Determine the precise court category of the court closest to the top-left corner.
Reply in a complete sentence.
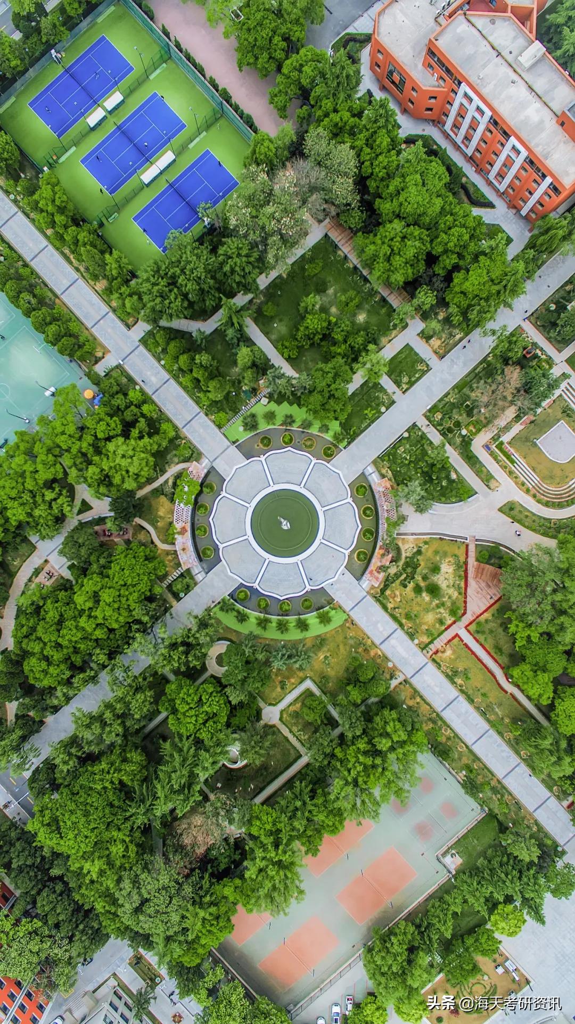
It turns out the court closest to the top-left corner is a tennis court.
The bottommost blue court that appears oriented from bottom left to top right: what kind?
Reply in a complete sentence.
The bottommost blue court that appears oriented from bottom left to top right is a tennis court.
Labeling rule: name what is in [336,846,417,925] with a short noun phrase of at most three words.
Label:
sports court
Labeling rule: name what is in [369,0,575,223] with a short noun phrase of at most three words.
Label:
building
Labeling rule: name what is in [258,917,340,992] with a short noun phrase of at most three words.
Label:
sports court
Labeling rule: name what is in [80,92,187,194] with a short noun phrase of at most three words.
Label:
tennis court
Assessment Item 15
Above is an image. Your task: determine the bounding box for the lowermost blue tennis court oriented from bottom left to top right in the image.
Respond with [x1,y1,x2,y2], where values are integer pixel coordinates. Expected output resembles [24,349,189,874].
[133,150,235,253]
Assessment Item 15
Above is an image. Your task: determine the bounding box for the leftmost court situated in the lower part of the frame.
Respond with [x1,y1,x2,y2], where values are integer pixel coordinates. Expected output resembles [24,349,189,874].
[229,895,271,947]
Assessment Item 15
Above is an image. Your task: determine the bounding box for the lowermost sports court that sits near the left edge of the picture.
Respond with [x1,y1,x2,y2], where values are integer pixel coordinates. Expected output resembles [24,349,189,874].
[0,281,116,498]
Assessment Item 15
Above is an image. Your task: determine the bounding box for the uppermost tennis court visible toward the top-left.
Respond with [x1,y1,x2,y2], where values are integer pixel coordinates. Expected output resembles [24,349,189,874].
[28,34,134,138]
